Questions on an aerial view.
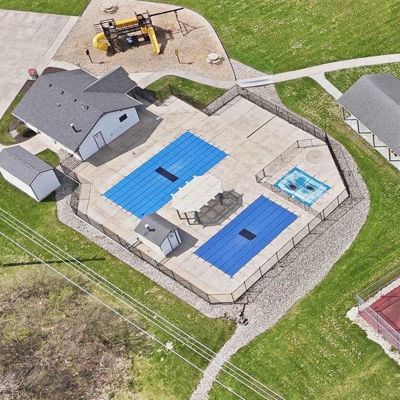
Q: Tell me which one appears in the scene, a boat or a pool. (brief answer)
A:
pool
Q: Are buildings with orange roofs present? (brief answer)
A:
No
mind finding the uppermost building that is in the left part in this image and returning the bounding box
[12,65,144,161]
